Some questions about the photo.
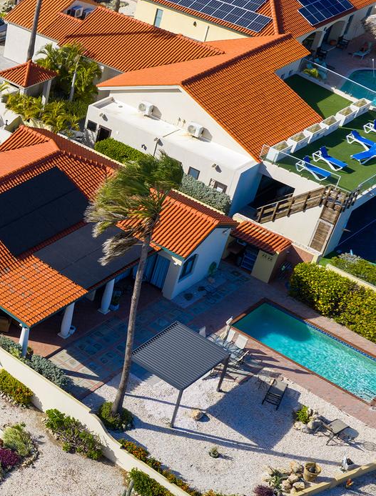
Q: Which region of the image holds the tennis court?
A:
right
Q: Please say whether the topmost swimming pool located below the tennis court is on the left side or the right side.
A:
right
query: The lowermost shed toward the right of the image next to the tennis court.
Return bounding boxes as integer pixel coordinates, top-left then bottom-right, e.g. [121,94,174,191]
[229,217,292,283]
